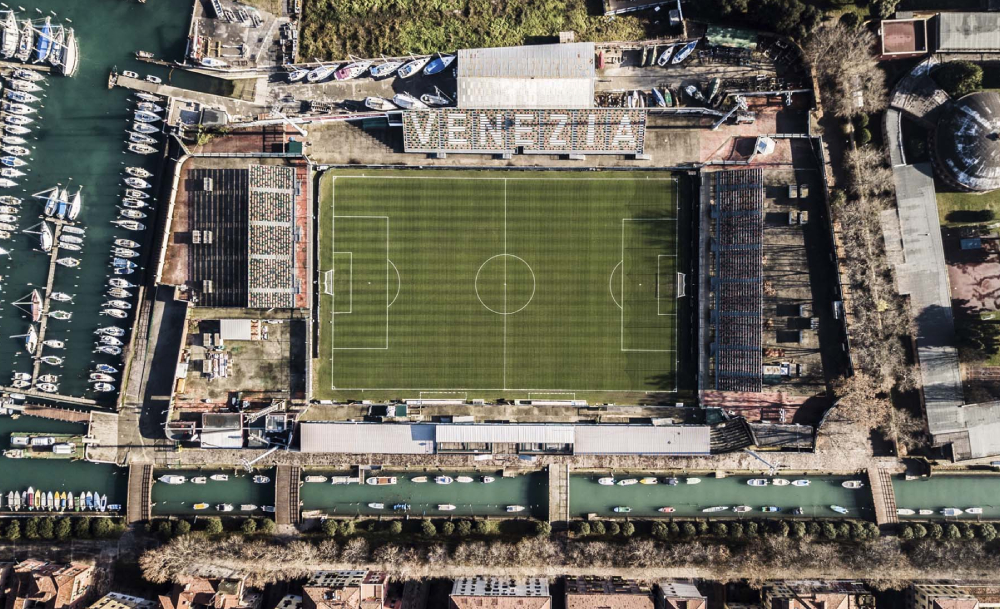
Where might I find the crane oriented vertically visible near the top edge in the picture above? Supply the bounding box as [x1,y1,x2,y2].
[184,8,202,61]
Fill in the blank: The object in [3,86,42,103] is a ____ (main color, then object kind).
white boat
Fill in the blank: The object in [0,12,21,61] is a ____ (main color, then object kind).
white boat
